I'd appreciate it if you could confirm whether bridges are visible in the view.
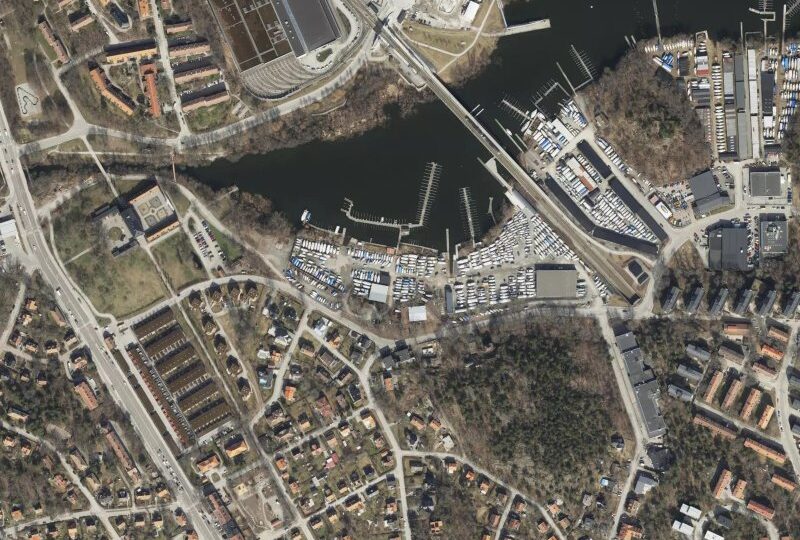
Yes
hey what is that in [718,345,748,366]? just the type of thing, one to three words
building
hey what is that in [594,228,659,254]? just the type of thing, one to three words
shed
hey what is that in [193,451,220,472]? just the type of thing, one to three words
building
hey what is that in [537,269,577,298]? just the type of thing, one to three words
shed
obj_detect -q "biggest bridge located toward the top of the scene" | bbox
[419,65,525,181]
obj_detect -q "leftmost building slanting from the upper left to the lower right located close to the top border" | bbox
[38,22,69,61]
